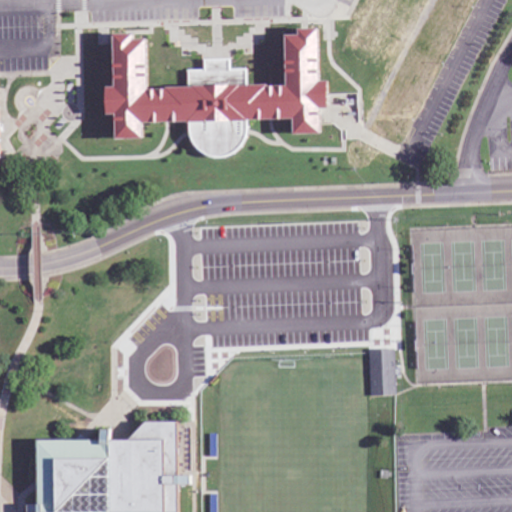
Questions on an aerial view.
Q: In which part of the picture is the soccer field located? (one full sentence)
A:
The soccer field is in the bottom part of the image.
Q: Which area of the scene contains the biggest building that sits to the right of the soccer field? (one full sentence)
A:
You can find the biggest building that sits to the right of the soccer field in the bottom right area of the picture.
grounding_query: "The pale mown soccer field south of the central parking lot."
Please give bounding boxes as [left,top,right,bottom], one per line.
[218,354,368,512]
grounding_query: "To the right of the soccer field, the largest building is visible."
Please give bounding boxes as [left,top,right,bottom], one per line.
[370,349,396,396]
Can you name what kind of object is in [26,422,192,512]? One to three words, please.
building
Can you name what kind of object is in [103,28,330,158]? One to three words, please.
building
